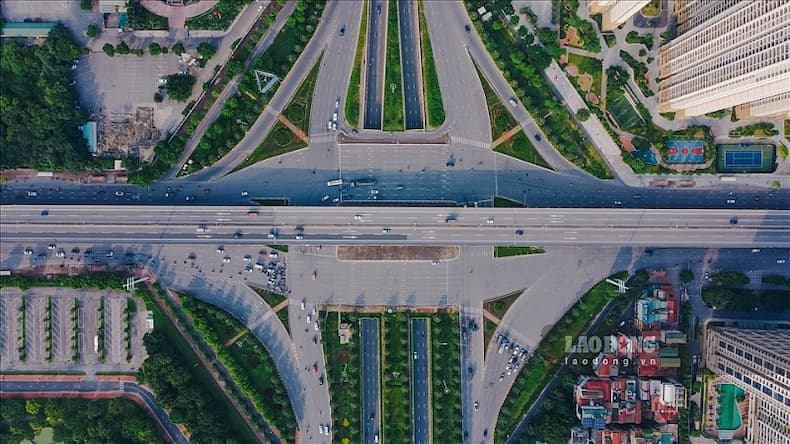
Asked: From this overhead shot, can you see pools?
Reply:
Yes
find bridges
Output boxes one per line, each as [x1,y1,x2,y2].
[0,205,790,249]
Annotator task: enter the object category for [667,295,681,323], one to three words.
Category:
house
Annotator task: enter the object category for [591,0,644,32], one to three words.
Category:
building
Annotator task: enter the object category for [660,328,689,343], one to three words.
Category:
house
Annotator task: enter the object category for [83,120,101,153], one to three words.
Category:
shed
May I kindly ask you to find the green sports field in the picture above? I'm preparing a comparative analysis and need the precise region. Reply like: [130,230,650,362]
[607,91,647,132]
